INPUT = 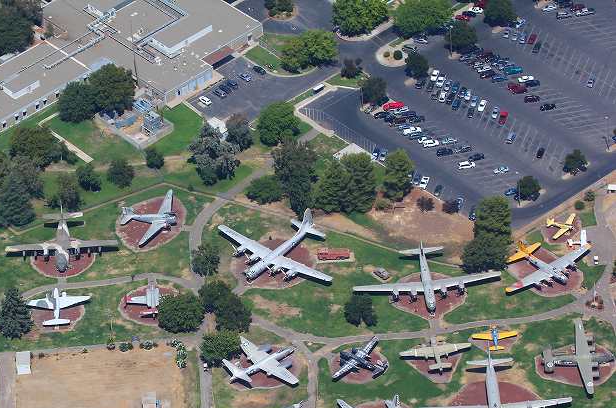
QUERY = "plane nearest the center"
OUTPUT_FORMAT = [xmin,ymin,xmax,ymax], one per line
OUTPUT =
[218,214,332,283]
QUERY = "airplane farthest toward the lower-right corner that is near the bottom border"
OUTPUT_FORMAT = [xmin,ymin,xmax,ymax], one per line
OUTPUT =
[543,317,615,390]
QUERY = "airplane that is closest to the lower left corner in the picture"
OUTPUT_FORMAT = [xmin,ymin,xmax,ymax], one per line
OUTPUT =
[27,287,91,322]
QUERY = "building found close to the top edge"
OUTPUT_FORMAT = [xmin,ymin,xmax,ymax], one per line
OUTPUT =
[0,0,263,134]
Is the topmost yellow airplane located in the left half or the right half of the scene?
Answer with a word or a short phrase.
right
